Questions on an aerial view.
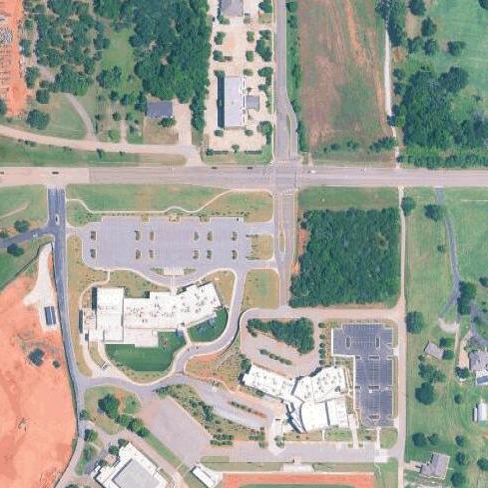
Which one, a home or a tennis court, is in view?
home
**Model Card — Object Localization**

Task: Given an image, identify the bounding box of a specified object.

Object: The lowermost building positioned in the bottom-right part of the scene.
[421,454,450,479]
